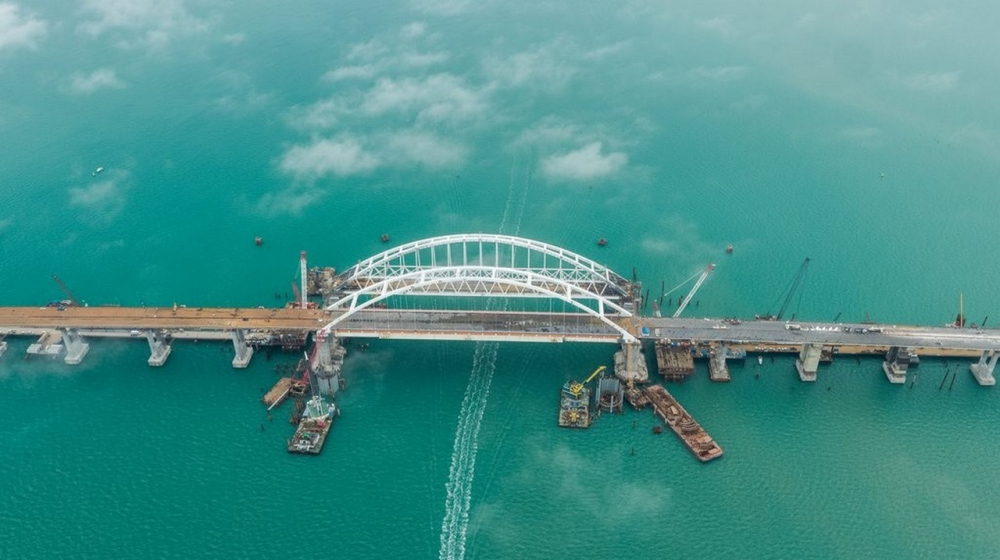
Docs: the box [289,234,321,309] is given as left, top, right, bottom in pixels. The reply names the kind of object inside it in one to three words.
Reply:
ship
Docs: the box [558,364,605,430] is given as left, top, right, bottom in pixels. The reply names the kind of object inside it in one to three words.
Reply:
ship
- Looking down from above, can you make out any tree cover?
No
